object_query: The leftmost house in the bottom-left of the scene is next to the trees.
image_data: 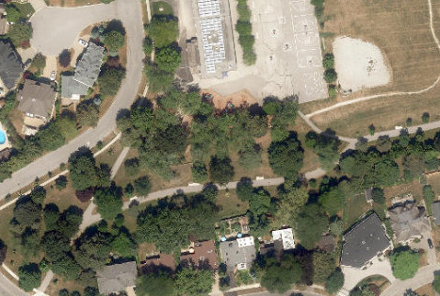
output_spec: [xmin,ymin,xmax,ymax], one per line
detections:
[96,262,138,296]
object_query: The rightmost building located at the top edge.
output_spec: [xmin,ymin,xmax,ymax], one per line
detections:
[188,0,238,77]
